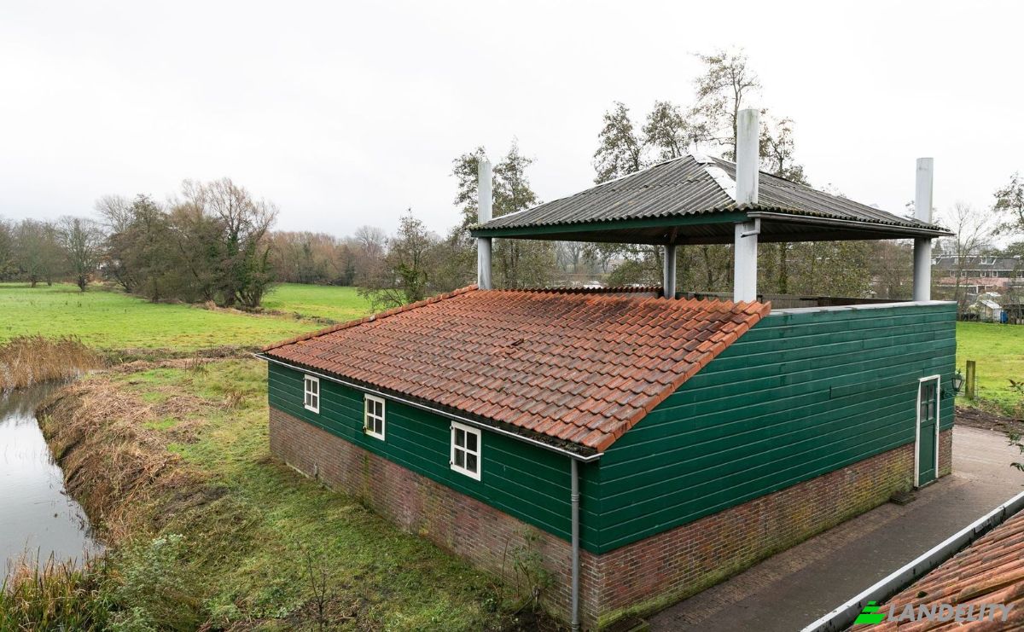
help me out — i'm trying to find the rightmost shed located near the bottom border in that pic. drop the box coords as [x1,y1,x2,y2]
[796,495,1024,632]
